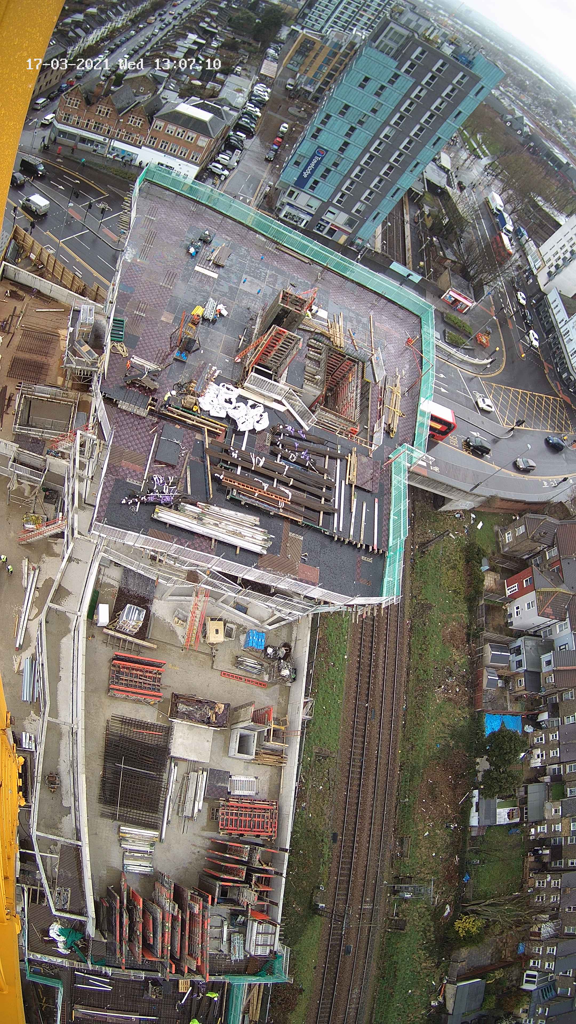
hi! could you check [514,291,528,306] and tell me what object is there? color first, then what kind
white car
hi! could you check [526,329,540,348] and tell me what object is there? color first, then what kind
white car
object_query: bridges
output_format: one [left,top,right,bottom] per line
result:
[400,469,494,519]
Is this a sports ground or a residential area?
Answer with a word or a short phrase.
residential area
